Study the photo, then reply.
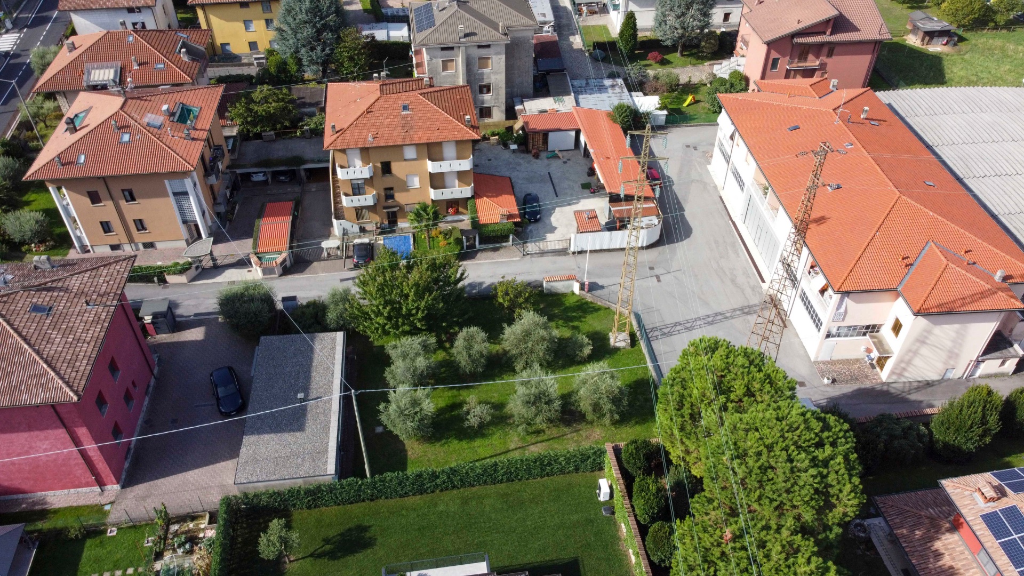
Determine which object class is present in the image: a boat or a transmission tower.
transmission tower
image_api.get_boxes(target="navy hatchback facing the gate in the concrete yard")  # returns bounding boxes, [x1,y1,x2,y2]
[521,194,544,223]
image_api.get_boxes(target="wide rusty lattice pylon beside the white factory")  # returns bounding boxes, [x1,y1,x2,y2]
[705,141,854,456]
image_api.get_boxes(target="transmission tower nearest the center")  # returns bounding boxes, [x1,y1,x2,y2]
[609,126,669,350]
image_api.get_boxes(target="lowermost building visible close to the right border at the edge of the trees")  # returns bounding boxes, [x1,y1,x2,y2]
[871,465,1024,576]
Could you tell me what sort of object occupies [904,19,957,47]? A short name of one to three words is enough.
barn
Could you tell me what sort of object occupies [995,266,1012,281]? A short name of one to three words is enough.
chimney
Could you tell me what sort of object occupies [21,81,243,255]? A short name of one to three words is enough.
house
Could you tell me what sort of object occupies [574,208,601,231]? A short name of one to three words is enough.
shed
